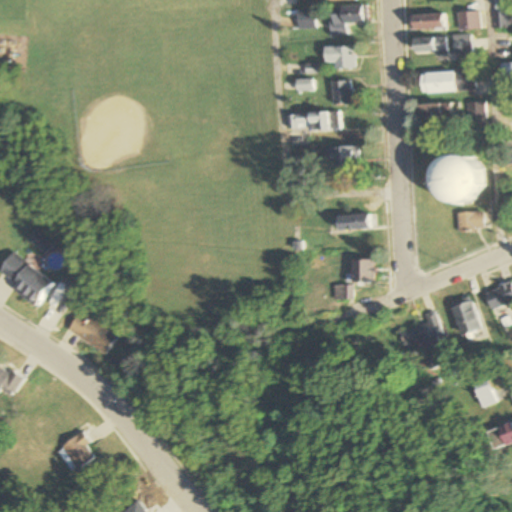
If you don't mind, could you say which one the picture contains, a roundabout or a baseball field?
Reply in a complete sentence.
I can see a baseball field in this picture.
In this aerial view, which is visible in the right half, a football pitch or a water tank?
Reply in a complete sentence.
There is a water tank in the right half.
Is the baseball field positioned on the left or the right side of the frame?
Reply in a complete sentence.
The baseball field is on the left side of the image.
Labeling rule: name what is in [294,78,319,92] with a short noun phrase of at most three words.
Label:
building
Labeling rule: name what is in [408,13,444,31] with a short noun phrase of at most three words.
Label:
house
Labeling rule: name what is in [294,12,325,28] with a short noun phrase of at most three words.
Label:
building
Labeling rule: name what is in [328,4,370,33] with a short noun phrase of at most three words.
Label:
house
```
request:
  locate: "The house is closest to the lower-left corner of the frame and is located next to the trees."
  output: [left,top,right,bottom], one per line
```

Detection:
[58,432,98,470]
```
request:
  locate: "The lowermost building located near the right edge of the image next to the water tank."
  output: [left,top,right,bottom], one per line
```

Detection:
[458,211,488,230]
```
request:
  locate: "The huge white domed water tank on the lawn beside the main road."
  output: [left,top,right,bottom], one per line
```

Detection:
[428,154,486,206]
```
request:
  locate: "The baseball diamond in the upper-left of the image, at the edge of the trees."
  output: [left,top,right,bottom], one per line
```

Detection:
[75,89,156,174]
